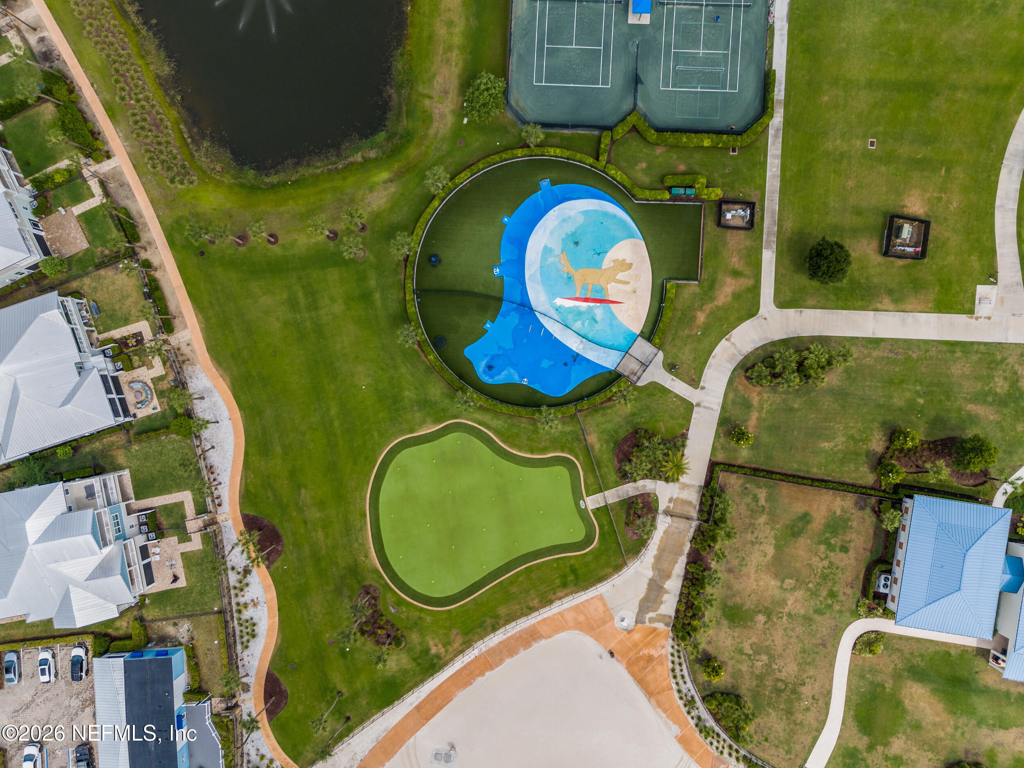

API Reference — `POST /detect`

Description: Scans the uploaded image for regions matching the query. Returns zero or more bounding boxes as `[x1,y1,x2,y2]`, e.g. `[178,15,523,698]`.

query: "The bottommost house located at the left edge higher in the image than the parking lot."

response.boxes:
[0,471,161,629]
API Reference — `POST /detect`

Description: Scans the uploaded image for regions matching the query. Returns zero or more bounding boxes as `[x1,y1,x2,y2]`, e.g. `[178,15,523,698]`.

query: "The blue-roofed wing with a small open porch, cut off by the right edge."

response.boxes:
[972,589,1024,682]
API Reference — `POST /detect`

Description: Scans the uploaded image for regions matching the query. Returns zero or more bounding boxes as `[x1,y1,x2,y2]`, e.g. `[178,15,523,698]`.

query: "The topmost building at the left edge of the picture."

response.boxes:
[0,155,54,281]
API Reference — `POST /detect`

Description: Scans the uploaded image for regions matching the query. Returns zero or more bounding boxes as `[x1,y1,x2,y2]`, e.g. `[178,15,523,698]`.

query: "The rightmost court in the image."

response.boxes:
[638,0,768,130]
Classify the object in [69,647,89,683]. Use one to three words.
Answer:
car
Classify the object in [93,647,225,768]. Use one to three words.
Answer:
building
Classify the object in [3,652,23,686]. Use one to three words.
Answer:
car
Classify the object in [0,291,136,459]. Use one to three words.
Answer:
house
